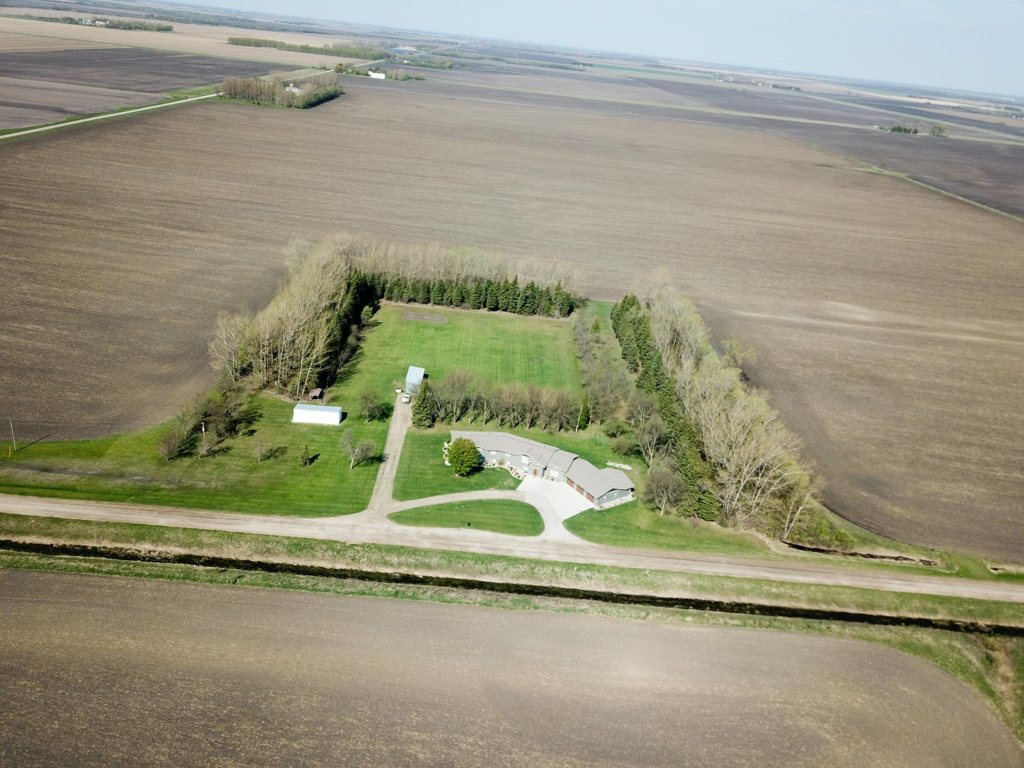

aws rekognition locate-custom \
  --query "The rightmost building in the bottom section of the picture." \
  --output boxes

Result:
[448,431,634,509]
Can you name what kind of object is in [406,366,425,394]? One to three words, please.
barn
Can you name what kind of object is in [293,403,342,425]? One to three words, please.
shed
